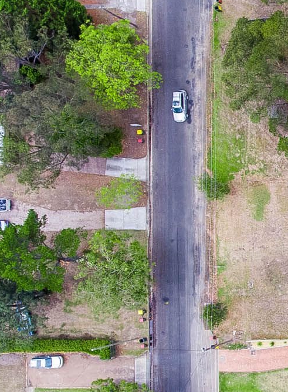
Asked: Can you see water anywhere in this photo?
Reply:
No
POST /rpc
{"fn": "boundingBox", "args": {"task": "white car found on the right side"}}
[168,89,187,123]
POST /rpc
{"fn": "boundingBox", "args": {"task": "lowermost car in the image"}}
[26,356,62,371]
